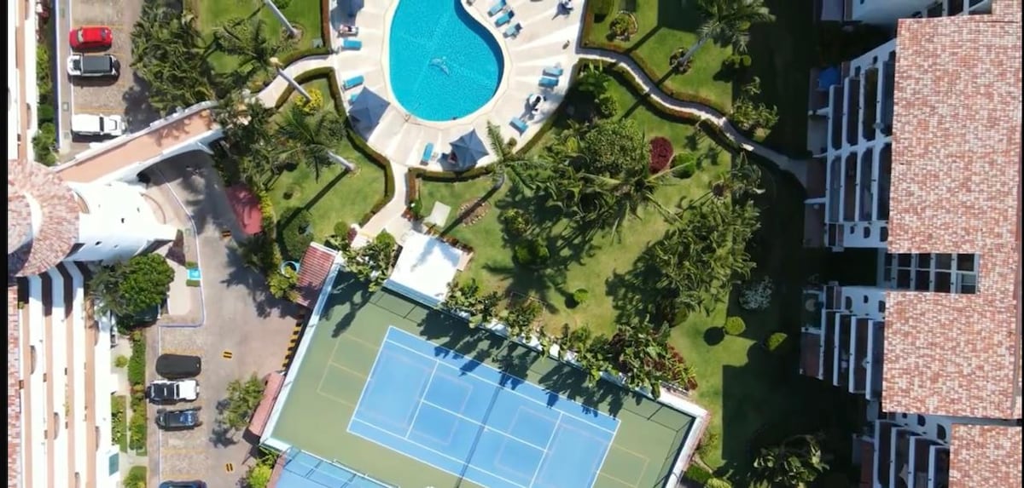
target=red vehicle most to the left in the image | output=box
[66,24,110,47]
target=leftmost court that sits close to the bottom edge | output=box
[243,447,364,488]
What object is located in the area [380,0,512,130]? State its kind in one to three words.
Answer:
swimming pool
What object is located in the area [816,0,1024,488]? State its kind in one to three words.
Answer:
building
